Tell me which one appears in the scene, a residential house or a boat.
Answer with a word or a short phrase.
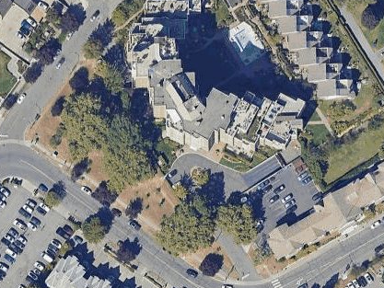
residential house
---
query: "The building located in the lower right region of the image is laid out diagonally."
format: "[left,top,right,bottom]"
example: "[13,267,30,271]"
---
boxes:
[269,161,384,262]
